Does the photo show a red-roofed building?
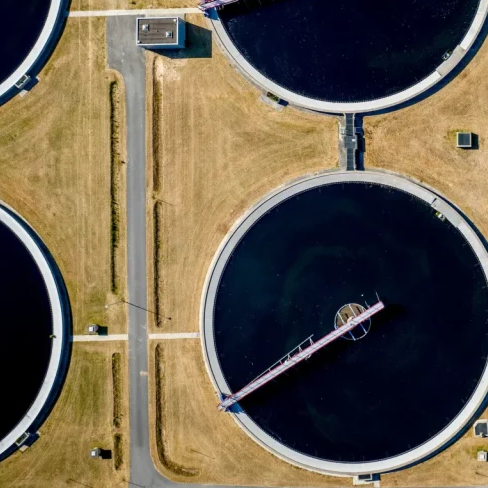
No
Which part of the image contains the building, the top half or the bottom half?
top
